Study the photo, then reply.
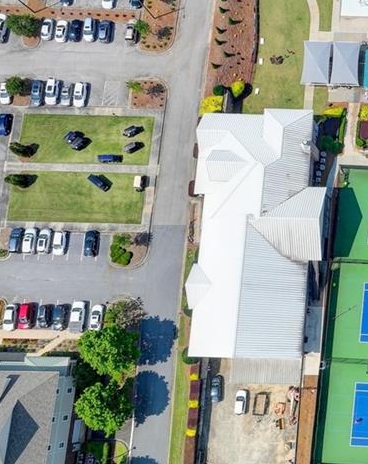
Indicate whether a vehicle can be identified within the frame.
Yes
